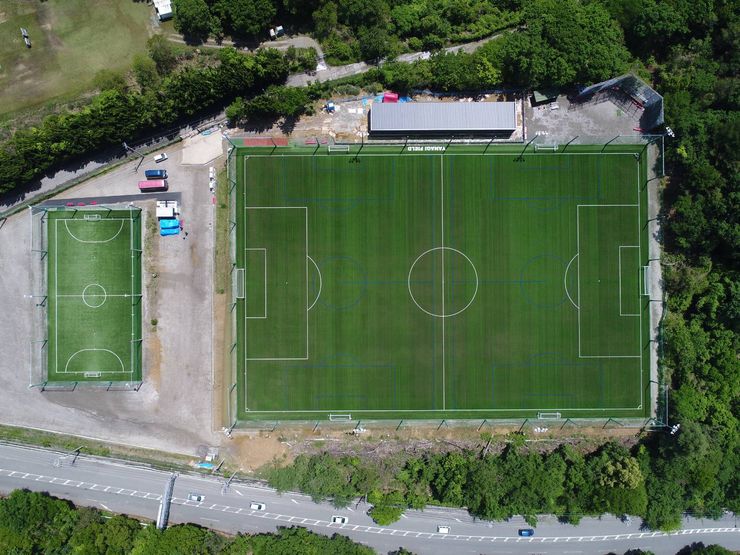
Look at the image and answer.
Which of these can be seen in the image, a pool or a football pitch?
football pitch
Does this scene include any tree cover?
Yes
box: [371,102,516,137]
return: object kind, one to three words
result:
building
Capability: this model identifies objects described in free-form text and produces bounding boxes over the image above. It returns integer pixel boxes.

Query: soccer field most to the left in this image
[48,210,142,382]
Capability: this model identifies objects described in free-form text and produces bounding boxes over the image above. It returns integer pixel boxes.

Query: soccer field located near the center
[236,145,650,420]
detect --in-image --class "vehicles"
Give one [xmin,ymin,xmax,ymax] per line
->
[188,493,206,503]
[153,152,169,163]
[145,168,169,178]
[436,525,450,533]
[322,103,335,111]
[332,515,348,524]
[250,502,266,510]
[517,528,533,537]
[268,26,278,40]
[139,178,171,190]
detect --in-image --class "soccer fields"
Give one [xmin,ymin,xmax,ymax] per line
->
[236,145,650,420]
[48,210,142,382]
